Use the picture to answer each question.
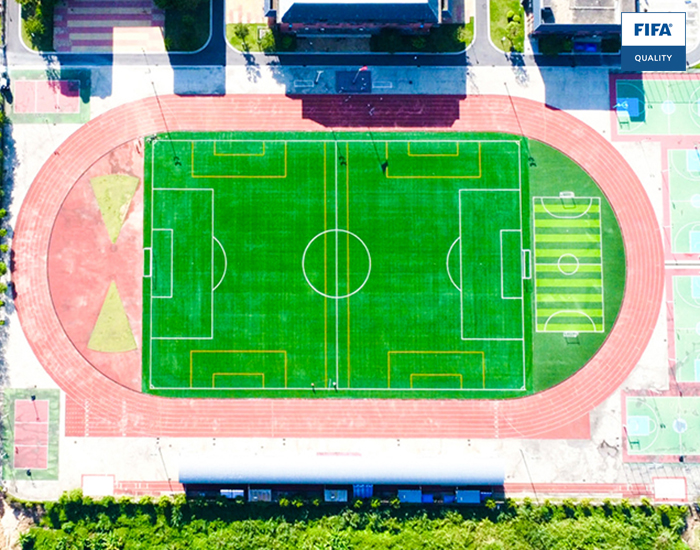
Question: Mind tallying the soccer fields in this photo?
2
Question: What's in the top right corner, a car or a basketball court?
basketball court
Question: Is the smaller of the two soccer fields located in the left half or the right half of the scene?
right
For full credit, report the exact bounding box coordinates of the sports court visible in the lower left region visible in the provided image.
[1,389,61,480]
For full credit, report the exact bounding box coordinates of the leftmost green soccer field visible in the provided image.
[142,132,528,398]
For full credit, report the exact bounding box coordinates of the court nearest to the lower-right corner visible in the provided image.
[621,389,700,462]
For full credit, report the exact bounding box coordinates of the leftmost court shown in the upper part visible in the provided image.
[10,70,90,124]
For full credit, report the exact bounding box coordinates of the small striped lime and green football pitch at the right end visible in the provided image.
[532,197,605,333]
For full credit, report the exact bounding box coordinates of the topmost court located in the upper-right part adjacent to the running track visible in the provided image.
[610,72,700,141]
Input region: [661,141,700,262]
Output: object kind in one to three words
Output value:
basketball court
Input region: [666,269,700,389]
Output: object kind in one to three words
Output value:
basketball court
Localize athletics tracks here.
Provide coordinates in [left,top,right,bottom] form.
[10,95,664,437]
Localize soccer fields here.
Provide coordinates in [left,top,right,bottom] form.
[532,197,605,333]
[142,132,528,398]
